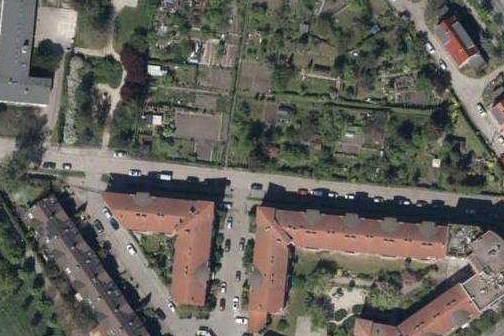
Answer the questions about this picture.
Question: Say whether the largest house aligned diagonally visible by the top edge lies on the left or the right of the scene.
right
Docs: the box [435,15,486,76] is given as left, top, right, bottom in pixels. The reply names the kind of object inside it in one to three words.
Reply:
house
